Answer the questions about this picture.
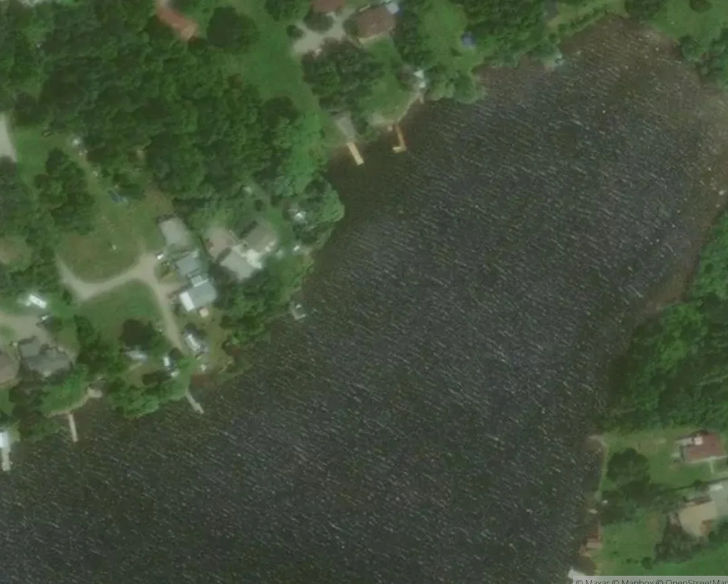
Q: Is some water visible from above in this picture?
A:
Yes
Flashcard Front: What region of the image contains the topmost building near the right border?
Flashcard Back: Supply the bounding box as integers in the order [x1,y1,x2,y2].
[674,432,728,464]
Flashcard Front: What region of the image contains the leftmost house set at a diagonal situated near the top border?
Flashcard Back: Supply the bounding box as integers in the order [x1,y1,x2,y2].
[159,7,199,41]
